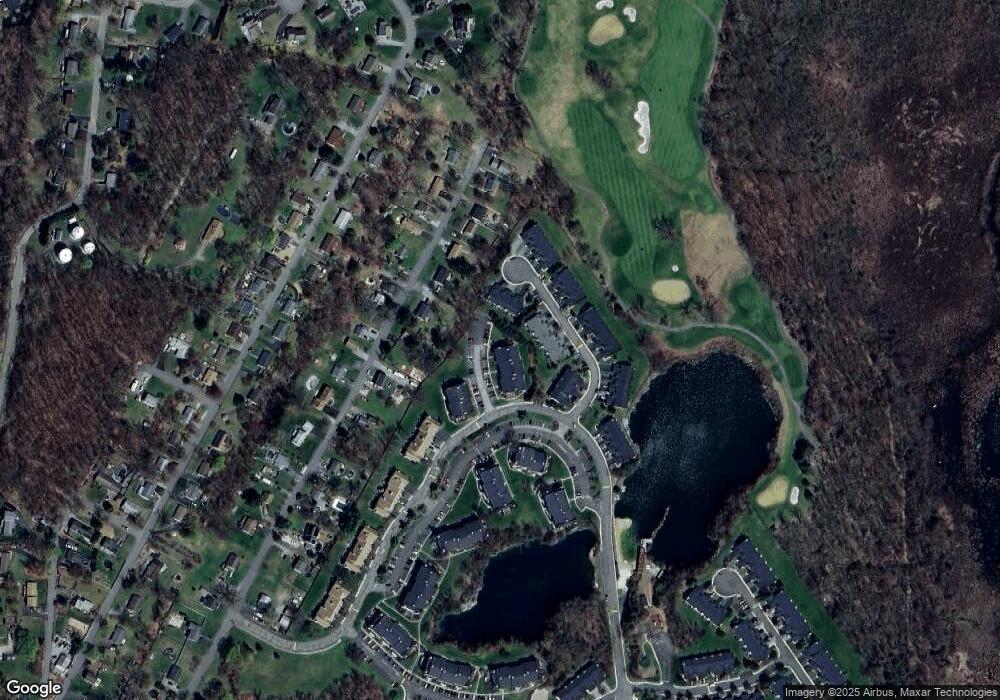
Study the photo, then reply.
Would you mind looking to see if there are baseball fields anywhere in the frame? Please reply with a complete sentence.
No, the frame has no baseball field in it.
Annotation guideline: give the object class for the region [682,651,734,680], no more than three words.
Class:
building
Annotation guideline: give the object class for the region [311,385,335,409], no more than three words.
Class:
house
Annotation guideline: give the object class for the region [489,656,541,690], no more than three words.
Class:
building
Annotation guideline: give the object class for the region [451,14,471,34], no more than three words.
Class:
house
